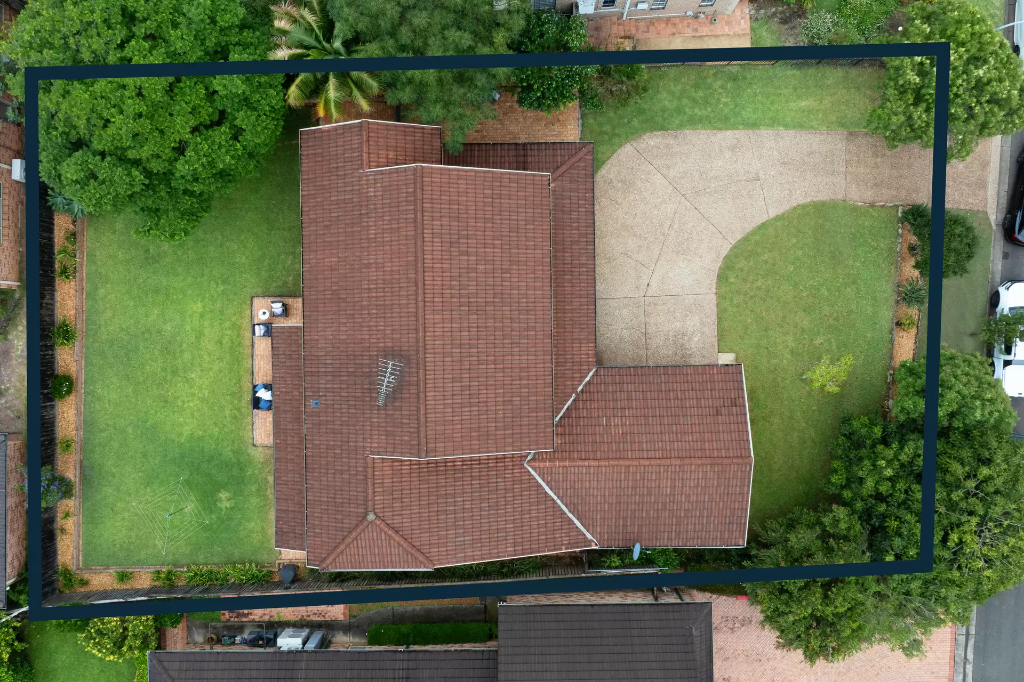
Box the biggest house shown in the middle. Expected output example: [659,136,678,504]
[298,119,755,573]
